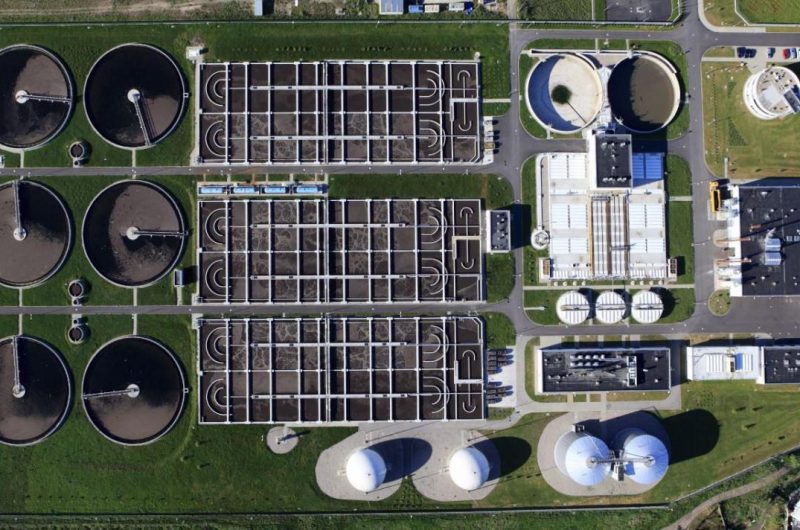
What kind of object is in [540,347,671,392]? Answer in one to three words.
building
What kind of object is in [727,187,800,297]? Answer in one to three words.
building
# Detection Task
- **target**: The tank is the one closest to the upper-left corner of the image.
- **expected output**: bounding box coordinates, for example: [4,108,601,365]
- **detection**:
[0,45,73,150]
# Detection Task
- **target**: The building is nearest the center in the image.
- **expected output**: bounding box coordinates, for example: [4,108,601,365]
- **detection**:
[488,210,511,252]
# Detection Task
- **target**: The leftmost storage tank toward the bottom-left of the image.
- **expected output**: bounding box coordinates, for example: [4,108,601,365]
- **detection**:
[0,337,71,445]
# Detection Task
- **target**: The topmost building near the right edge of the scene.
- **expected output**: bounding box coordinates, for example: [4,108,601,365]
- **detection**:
[742,68,800,120]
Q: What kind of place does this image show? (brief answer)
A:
industrial area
